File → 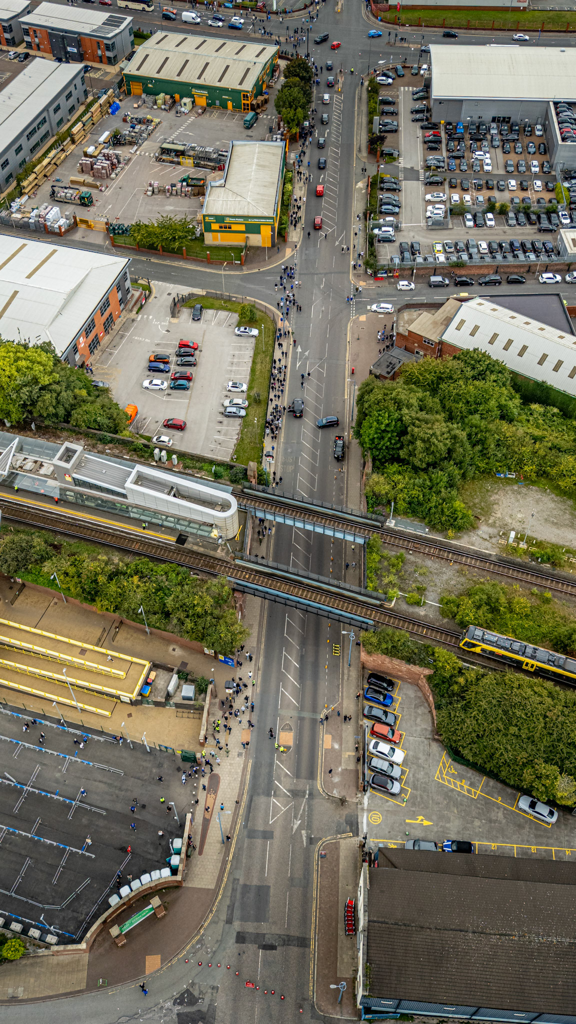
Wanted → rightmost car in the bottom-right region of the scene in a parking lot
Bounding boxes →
[519,799,557,824]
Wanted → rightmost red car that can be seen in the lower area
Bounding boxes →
[370,724,400,746]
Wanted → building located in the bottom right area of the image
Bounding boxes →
[360,848,576,1024]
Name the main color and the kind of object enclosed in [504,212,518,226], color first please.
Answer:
gray car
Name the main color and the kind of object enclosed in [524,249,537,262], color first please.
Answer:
gray vehicle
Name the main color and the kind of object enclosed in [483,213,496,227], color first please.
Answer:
white vehicle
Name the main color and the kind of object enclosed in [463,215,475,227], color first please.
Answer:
white vehicle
